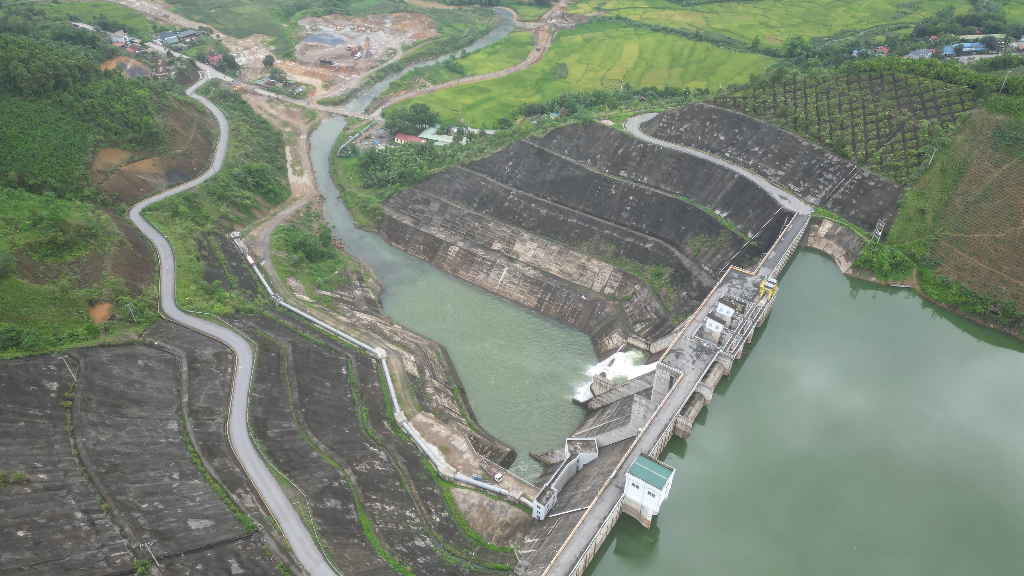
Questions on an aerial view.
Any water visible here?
Yes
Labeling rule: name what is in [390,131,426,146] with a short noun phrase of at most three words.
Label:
house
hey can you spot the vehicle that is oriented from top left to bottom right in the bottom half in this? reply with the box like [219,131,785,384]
[476,455,505,484]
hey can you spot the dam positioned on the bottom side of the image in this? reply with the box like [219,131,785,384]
[509,207,812,576]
